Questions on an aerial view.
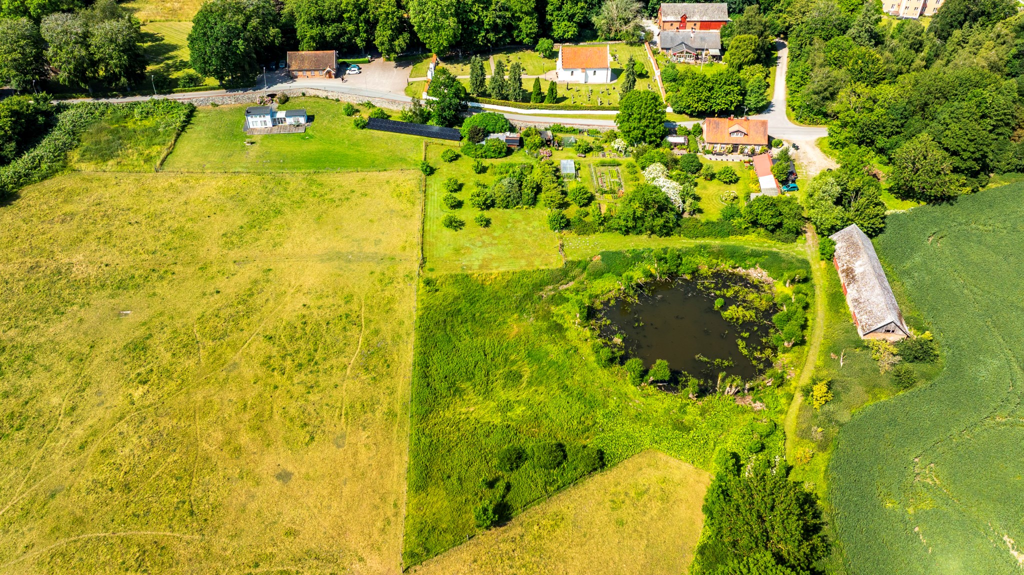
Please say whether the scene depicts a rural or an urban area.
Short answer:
rural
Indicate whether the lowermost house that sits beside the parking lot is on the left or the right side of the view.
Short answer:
left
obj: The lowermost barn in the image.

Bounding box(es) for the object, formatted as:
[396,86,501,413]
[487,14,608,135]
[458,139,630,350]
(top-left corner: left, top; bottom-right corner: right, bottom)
[829,222,911,342]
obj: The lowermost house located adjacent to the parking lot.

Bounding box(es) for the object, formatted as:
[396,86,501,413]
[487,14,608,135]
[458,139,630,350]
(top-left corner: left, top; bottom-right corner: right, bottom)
[245,104,307,127]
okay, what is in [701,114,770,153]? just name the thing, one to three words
house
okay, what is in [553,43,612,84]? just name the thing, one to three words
building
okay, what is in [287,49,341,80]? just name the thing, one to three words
building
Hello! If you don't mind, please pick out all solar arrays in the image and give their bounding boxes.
[365,115,464,142]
